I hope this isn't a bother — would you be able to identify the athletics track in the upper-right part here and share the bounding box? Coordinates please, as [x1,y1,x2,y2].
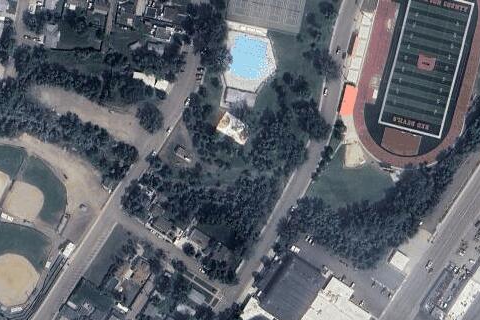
[353,0,480,168]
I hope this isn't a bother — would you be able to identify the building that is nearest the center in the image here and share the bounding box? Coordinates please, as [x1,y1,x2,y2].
[218,111,247,140]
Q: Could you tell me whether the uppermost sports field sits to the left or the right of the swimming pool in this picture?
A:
on the right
